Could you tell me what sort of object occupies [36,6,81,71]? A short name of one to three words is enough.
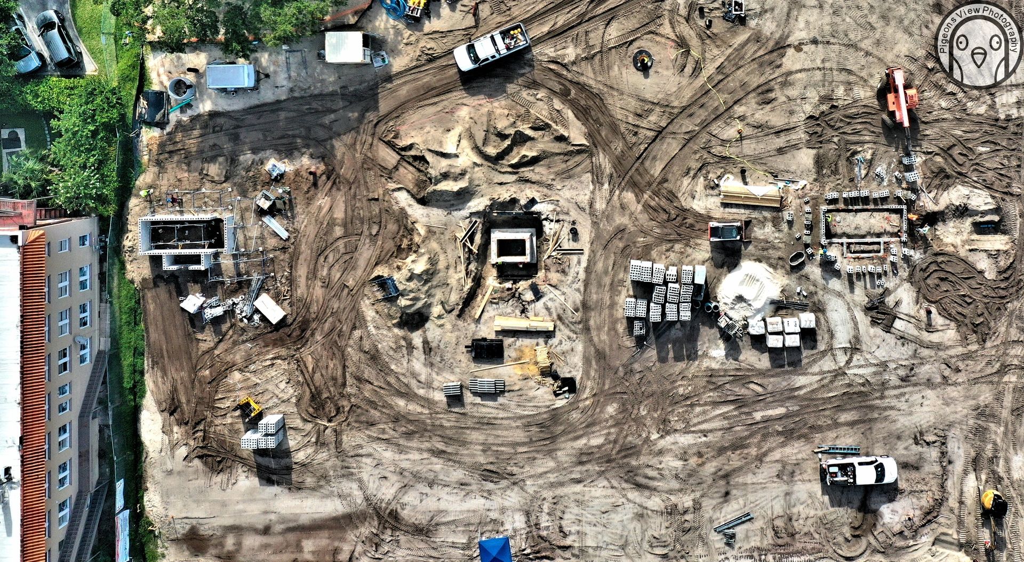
car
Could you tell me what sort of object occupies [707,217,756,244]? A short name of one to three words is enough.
work vehicle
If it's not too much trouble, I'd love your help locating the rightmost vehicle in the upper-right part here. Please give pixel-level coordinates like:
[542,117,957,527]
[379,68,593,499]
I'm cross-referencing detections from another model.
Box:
[875,65,926,171]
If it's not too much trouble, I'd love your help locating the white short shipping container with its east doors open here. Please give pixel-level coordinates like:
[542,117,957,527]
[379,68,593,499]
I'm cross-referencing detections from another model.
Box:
[325,32,383,64]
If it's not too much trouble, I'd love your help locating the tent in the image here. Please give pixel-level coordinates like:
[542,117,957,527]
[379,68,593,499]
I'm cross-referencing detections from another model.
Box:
[478,524,519,562]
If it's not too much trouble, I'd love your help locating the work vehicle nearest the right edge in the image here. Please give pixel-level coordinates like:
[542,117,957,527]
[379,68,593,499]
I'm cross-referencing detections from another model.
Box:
[979,490,1009,540]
